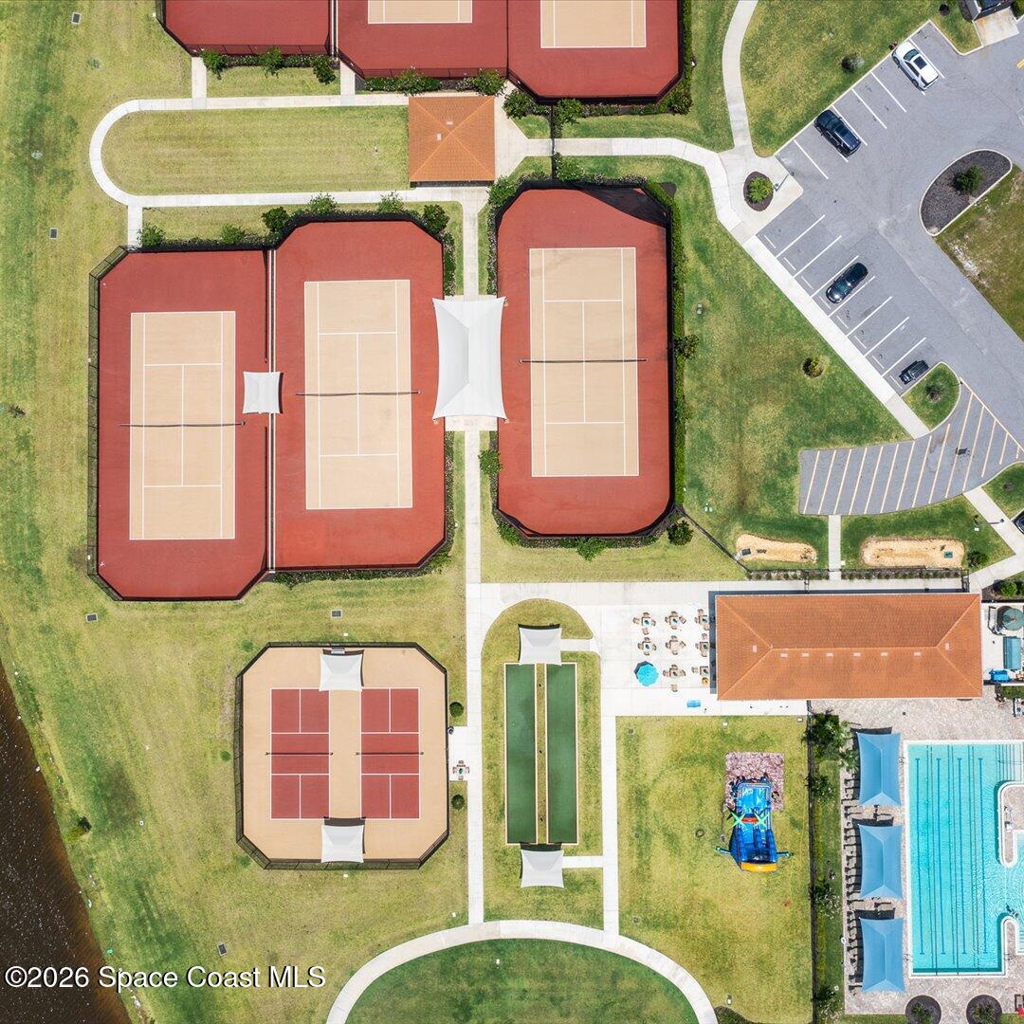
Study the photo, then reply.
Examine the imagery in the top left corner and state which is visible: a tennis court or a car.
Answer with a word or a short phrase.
tennis court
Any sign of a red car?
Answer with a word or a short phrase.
No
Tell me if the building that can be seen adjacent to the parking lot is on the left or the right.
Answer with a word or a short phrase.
right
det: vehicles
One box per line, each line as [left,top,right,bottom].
[815,110,860,157]
[824,262,870,304]
[893,42,938,89]
[901,356,934,382]
[1016,513,1024,532]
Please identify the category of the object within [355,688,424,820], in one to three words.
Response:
sports court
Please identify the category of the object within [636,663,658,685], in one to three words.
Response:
umbrella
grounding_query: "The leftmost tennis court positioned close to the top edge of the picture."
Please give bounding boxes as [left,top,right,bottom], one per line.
[165,0,329,55]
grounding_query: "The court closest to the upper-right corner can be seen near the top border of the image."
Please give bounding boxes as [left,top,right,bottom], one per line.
[509,0,681,94]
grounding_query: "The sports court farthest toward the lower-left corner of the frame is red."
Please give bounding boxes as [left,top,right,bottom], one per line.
[264,688,334,820]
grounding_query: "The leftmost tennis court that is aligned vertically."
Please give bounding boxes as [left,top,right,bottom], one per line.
[97,250,268,599]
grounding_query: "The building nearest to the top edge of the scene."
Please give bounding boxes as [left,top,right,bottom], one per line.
[407,95,496,187]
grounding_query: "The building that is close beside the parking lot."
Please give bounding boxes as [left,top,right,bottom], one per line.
[713,593,984,701]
